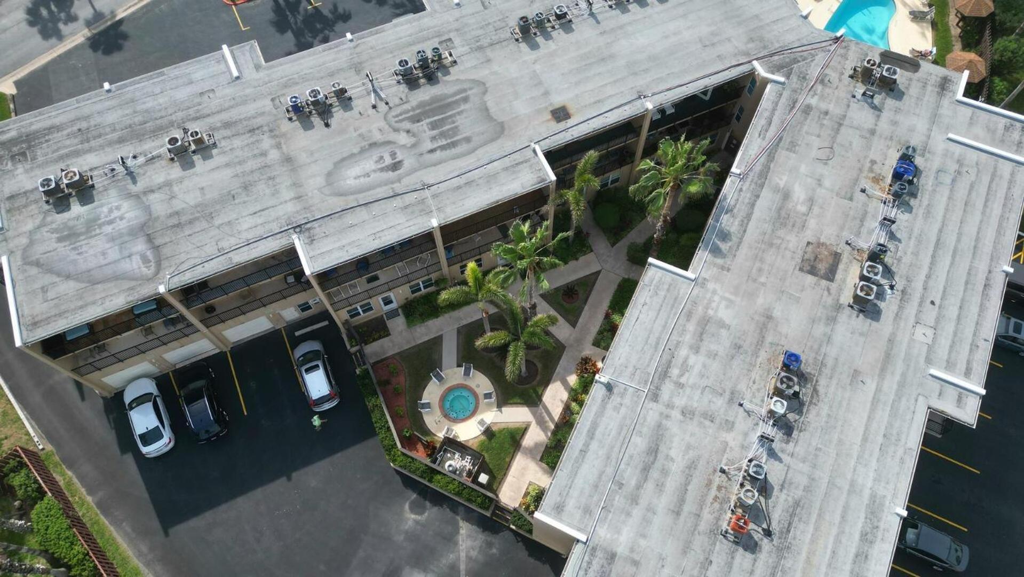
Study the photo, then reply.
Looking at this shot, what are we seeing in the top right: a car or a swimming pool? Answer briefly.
swimming pool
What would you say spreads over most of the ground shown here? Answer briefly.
buildings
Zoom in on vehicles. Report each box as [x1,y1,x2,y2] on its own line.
[127,377,177,462]
[994,311,1024,356]
[898,510,971,569]
[295,337,340,417]
[178,364,226,447]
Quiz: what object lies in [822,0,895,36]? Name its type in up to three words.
swimming pool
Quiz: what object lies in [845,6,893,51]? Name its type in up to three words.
swimming pool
